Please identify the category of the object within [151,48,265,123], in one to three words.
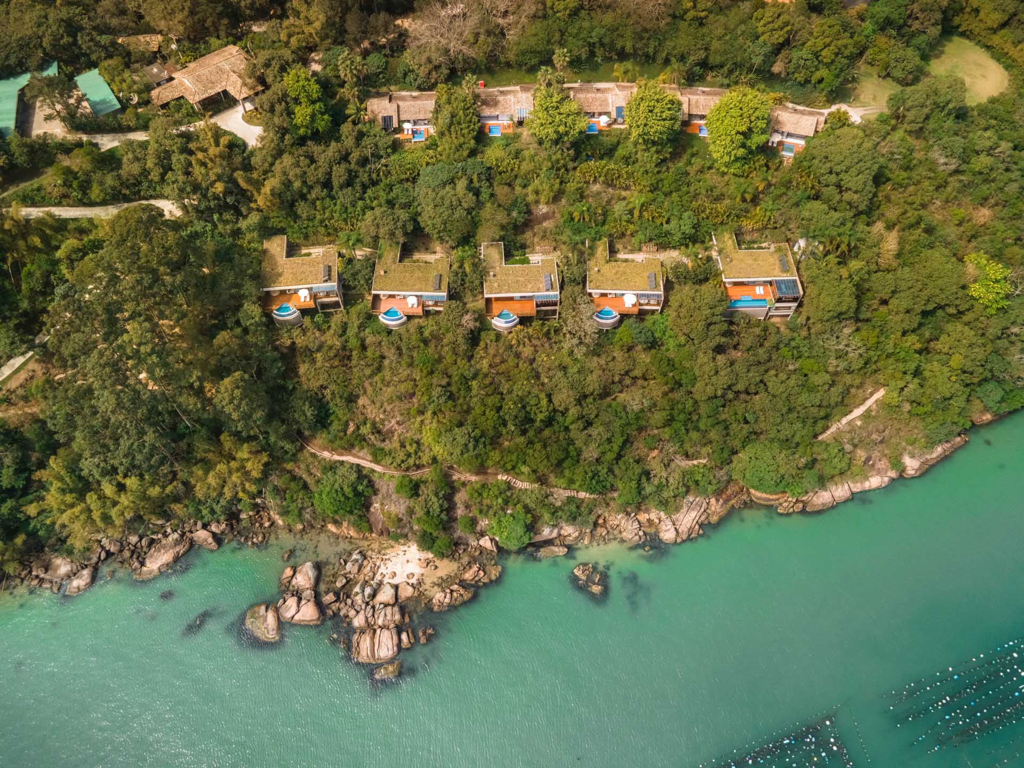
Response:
building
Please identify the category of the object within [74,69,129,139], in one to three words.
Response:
shed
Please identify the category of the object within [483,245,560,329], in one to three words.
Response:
house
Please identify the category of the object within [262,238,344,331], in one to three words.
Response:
house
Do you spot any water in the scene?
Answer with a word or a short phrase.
Yes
